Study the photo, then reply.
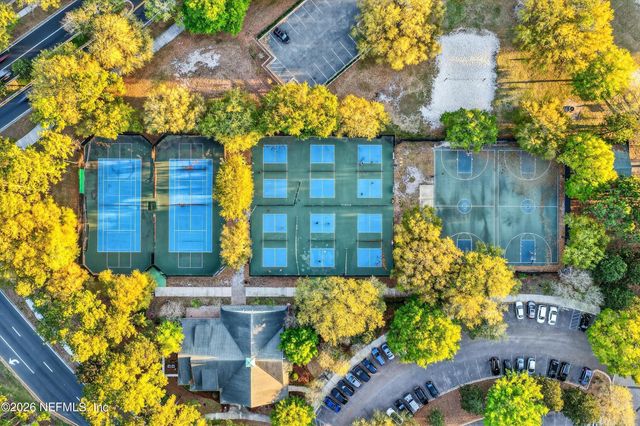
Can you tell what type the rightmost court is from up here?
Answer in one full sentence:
I'd say the rightmost court is a basketball court.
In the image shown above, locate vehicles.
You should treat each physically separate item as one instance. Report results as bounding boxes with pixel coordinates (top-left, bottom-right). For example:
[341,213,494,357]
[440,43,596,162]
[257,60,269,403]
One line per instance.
[548,358,559,377]
[558,360,569,380]
[393,397,409,417]
[536,304,547,324]
[402,391,420,414]
[369,345,388,367]
[424,379,439,399]
[386,406,402,425]
[331,387,349,405]
[323,396,341,412]
[361,356,378,374]
[526,355,536,374]
[503,355,513,375]
[579,365,592,385]
[345,371,362,389]
[547,305,558,325]
[414,385,429,405]
[273,27,291,44]
[338,379,356,396]
[16,92,31,107]
[526,299,536,319]
[352,365,370,383]
[514,300,524,319]
[579,312,593,330]
[489,355,500,375]
[515,354,524,373]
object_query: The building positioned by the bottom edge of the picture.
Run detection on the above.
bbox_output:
[177,305,289,410]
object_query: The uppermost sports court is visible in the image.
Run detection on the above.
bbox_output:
[421,29,498,127]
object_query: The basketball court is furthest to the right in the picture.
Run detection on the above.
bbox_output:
[497,149,559,264]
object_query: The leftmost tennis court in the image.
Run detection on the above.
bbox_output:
[84,139,154,273]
